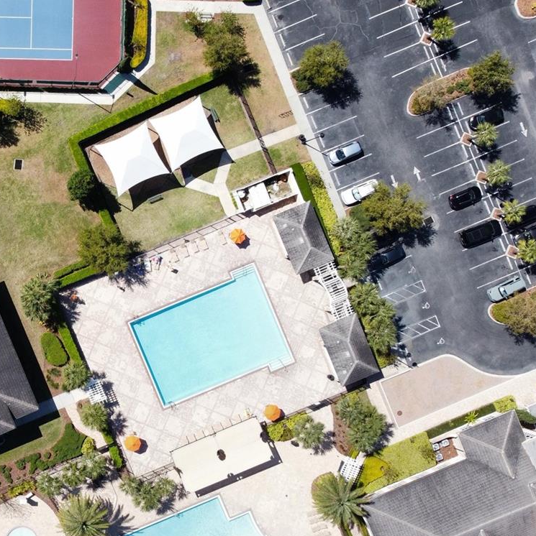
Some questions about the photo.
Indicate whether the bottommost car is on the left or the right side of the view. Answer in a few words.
right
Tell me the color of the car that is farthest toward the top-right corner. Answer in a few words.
black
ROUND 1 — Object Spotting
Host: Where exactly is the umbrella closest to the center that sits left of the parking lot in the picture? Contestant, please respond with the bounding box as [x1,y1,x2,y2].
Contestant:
[228,226,246,244]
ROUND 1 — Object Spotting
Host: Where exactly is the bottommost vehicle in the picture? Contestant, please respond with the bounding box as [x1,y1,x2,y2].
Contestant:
[484,273,528,300]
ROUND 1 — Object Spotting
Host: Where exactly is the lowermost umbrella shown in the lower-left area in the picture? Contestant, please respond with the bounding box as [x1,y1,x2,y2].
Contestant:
[124,436,140,453]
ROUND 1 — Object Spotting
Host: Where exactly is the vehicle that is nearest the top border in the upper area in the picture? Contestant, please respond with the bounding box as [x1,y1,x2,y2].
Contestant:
[464,106,505,131]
